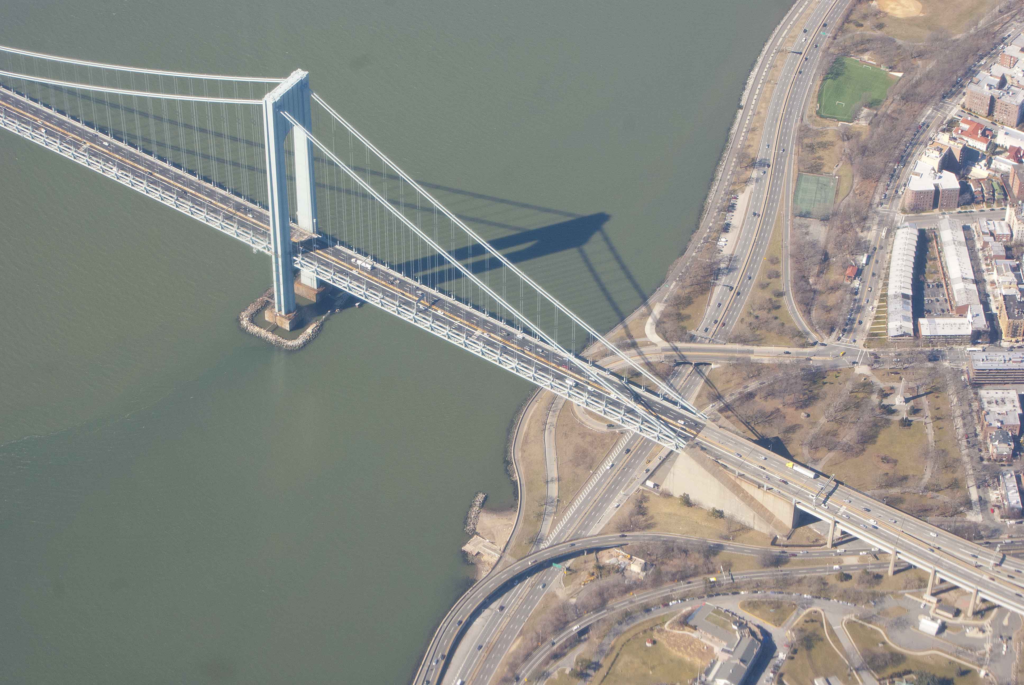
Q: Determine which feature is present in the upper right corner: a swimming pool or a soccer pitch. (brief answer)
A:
soccer pitch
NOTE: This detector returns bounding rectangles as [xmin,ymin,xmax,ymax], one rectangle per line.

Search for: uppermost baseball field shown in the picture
[871,0,996,30]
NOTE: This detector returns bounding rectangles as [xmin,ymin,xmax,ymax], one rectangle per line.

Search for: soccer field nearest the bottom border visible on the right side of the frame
[816,56,897,122]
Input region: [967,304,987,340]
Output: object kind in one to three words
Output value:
building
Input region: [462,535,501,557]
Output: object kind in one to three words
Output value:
pier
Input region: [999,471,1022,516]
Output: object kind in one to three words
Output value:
building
